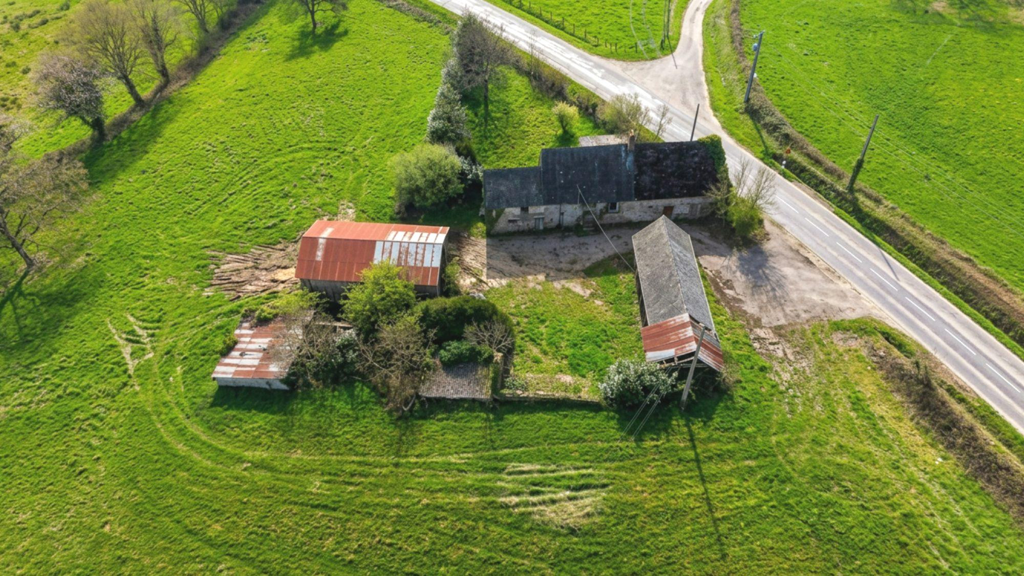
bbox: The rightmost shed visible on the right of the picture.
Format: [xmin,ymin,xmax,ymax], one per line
[631,215,723,387]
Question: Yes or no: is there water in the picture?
No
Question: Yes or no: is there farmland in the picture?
Yes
